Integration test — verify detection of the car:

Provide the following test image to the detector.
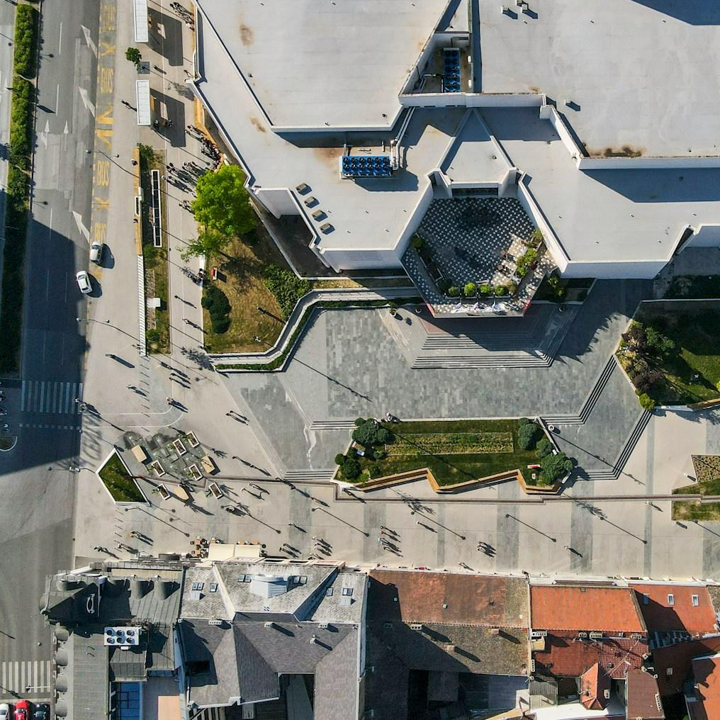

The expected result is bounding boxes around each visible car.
[15,699,30,720]
[34,704,50,720]
[0,703,12,720]
[88,237,105,266]
[76,269,93,297]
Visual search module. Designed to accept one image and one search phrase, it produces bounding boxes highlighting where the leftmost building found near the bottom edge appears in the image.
[45,555,213,720]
